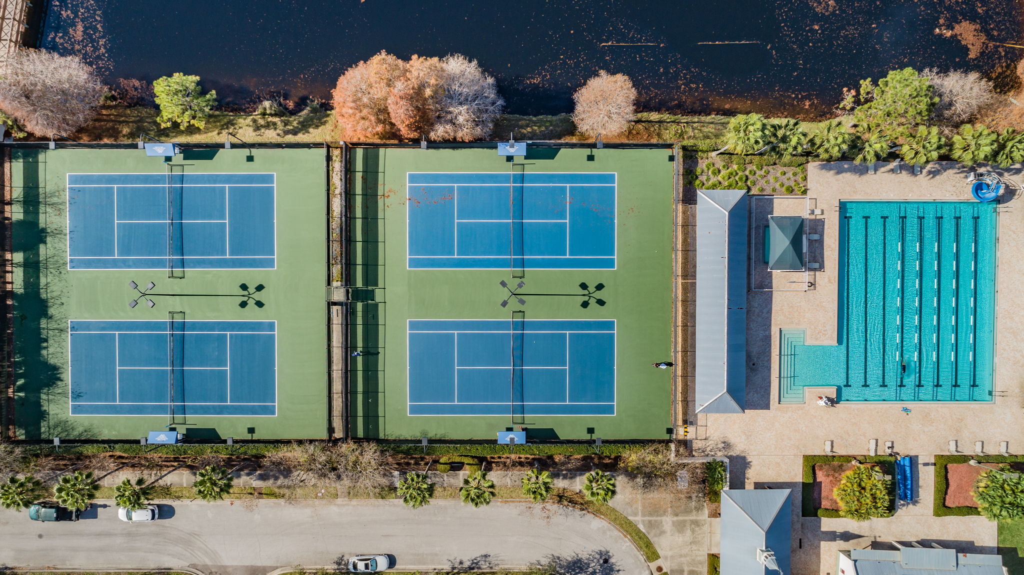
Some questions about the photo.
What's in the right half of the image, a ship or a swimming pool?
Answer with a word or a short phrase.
swimming pool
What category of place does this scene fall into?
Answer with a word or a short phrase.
sports ground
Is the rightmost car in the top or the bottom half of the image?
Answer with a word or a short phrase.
bottom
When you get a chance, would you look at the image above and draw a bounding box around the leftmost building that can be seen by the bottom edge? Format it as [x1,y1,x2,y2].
[720,489,792,575]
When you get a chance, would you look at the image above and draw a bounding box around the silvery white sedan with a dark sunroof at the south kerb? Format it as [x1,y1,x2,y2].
[348,553,390,573]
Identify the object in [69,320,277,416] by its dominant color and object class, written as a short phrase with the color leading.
blue tennis court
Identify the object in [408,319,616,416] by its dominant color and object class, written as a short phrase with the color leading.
blue tennis court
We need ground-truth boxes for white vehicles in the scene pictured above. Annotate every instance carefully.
[121,503,160,522]
[348,553,390,573]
